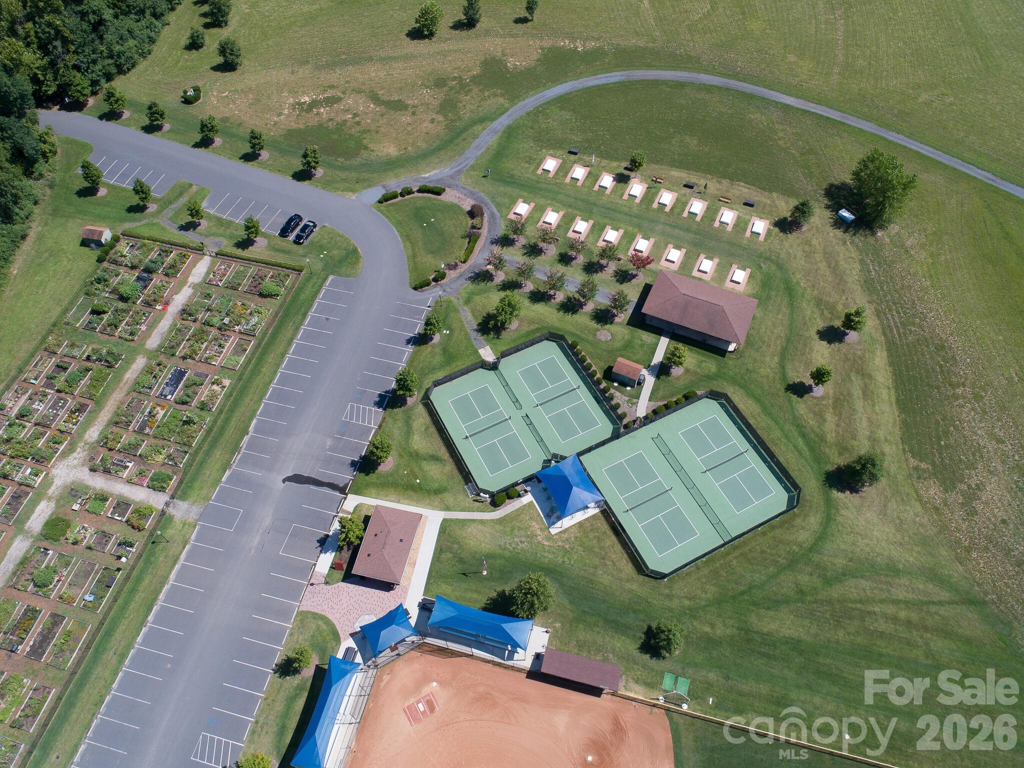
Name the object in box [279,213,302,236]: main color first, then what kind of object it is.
black car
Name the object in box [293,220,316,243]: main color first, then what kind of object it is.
black car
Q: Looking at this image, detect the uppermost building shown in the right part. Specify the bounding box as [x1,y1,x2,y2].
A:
[642,269,758,354]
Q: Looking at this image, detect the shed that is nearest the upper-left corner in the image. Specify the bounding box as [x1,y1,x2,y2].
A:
[77,225,109,248]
